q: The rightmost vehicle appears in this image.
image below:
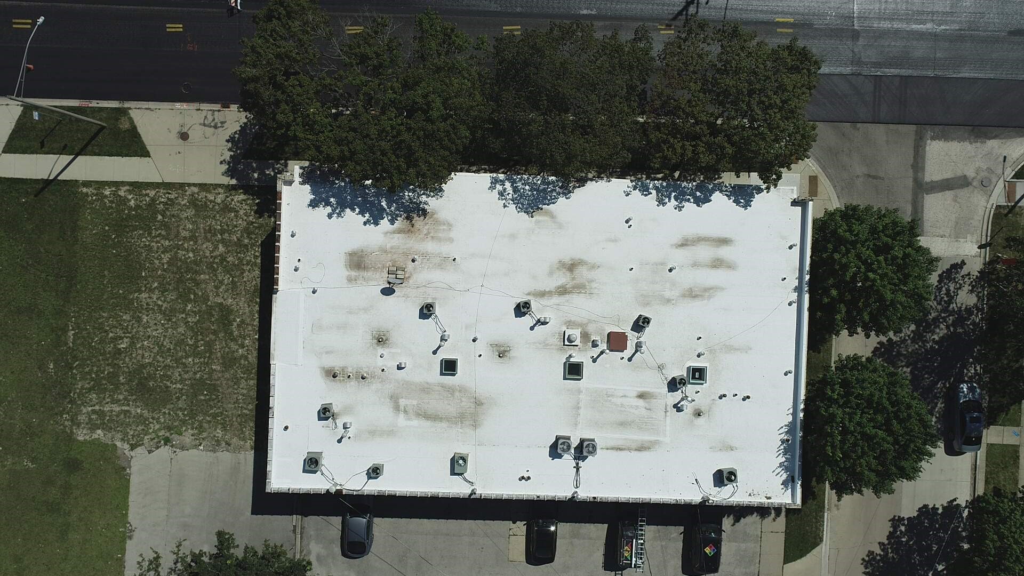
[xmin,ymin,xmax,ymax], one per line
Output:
[947,381,987,453]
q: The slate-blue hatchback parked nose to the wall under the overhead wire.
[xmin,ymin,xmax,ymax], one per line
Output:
[343,494,376,559]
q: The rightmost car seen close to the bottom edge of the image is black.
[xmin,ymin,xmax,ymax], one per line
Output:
[688,504,726,574]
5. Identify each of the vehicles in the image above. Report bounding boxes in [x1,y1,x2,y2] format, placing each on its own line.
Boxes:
[526,500,560,564]
[688,504,726,574]
[947,381,987,453]
[610,502,644,568]
[343,494,376,559]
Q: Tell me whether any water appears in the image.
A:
No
